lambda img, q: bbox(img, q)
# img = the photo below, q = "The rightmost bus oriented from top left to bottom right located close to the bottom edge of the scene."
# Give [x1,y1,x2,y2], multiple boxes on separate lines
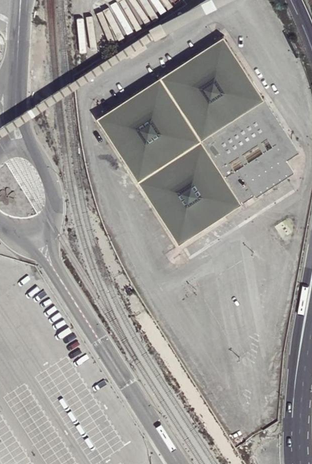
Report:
[155,426,176,452]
